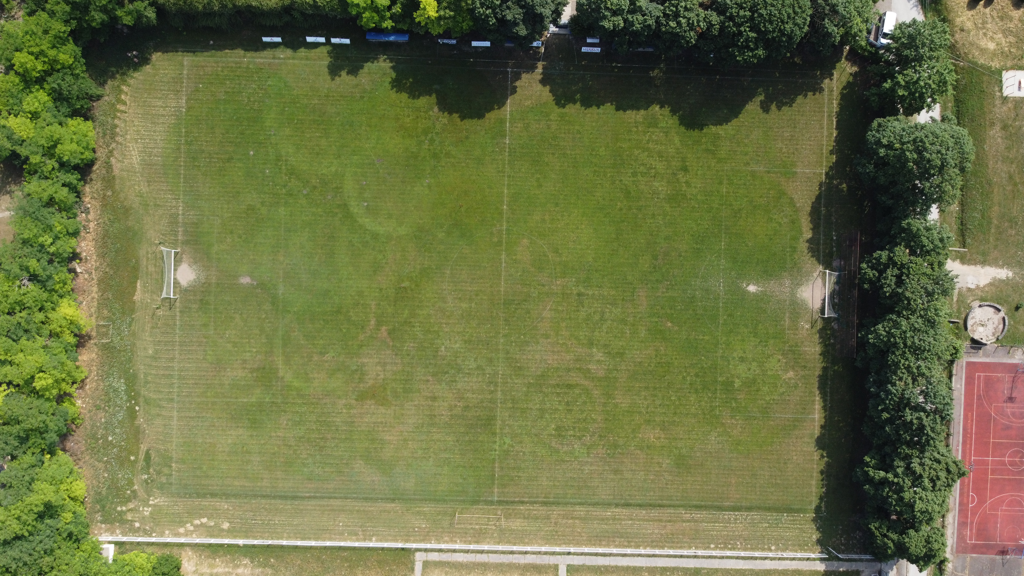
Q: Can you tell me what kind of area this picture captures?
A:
sports ground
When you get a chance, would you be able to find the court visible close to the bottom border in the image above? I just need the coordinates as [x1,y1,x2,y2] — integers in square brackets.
[943,346,1024,576]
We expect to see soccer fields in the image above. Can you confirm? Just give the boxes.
[142,42,836,520]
